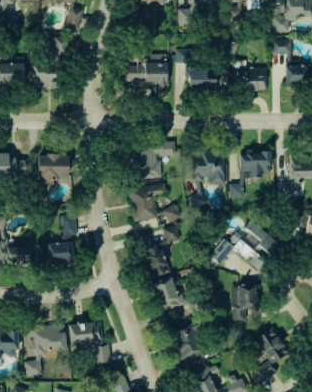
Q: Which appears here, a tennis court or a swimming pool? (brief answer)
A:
swimming pool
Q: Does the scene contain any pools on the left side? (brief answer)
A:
Yes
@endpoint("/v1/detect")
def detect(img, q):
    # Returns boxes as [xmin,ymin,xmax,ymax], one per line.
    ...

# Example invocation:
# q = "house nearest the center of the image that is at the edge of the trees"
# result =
[129,180,180,222]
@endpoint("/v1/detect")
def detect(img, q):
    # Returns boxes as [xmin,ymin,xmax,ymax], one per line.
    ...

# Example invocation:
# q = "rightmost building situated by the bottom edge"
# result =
[256,327,286,378]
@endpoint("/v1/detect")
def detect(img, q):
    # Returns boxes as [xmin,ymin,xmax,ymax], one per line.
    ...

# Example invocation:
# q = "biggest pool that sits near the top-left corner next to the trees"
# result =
[44,8,64,27]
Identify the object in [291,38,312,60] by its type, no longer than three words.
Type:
swimming pool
